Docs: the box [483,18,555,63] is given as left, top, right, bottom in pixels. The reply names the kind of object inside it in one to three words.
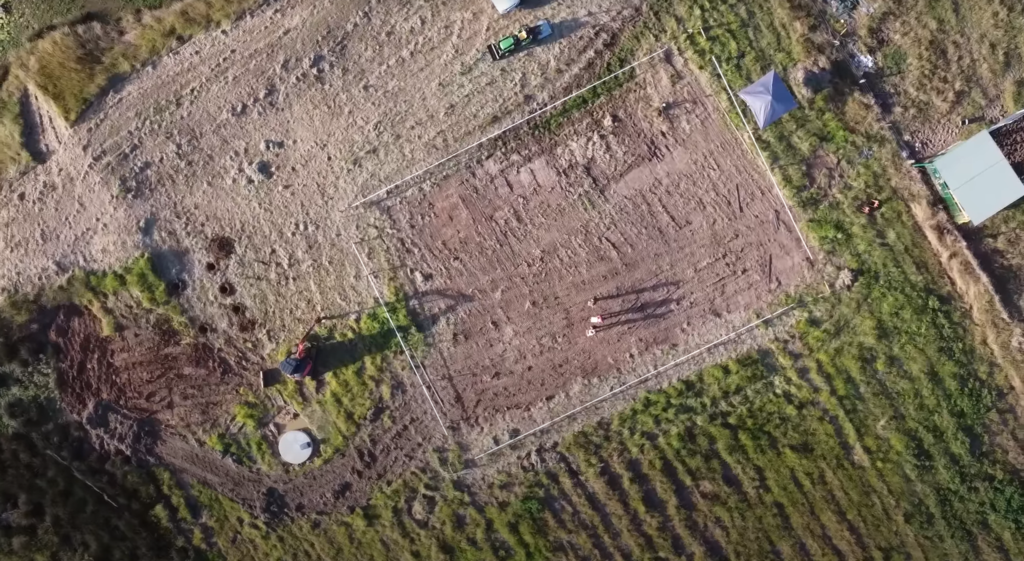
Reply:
work vehicle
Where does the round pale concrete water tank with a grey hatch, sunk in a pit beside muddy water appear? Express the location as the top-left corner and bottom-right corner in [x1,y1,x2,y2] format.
[278,427,315,464]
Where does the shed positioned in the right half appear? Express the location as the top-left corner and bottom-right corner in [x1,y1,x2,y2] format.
[913,128,1024,227]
